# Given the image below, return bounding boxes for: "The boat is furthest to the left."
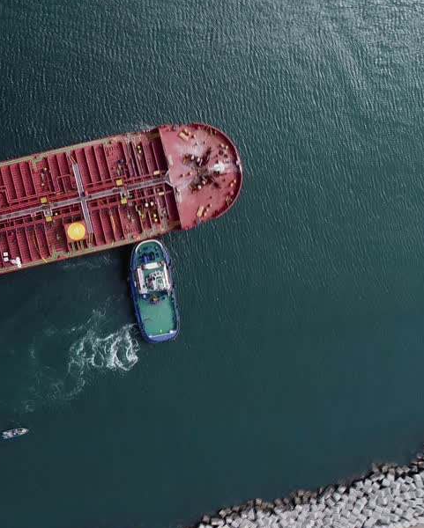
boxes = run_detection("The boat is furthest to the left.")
[0,428,28,440]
